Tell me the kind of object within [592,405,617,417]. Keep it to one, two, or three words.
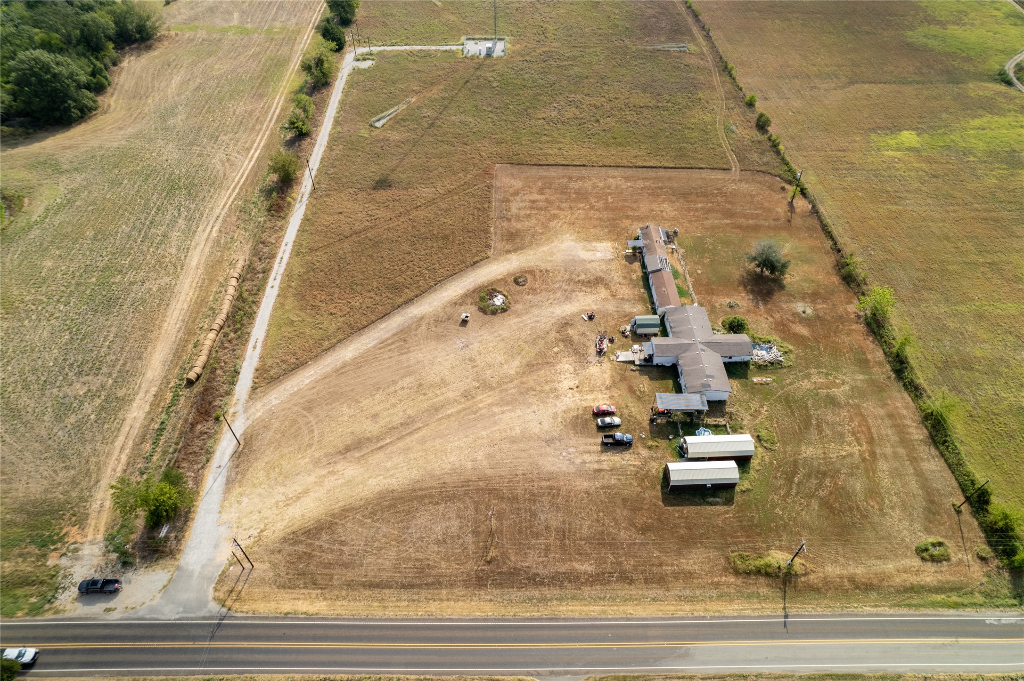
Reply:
vehicle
